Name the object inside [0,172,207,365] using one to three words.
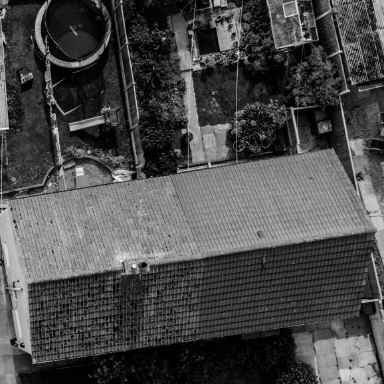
house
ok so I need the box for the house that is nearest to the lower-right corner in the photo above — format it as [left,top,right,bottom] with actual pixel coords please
[170,148,382,342]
